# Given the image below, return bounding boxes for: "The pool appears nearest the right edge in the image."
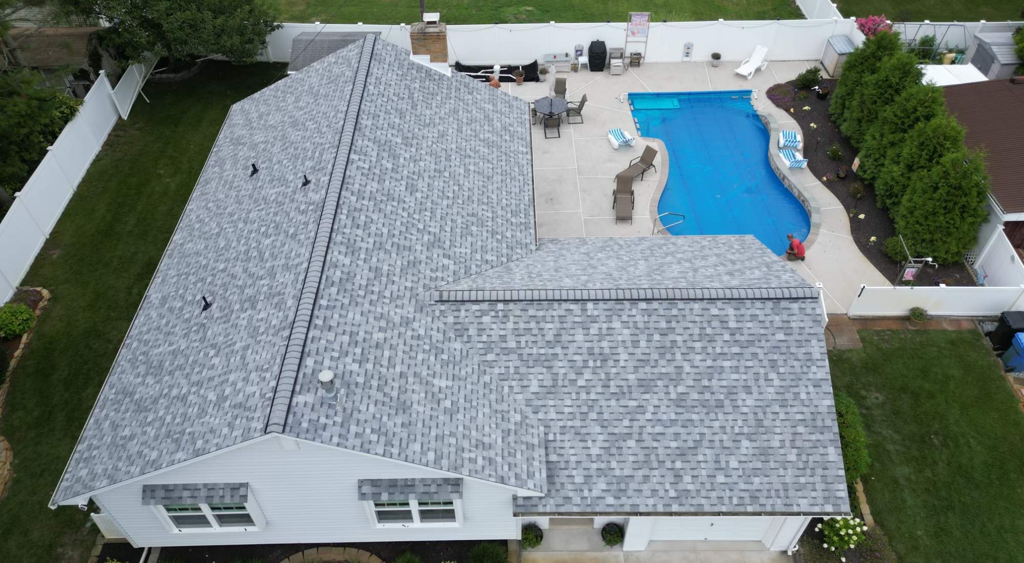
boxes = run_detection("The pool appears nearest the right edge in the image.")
[628,92,821,264]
